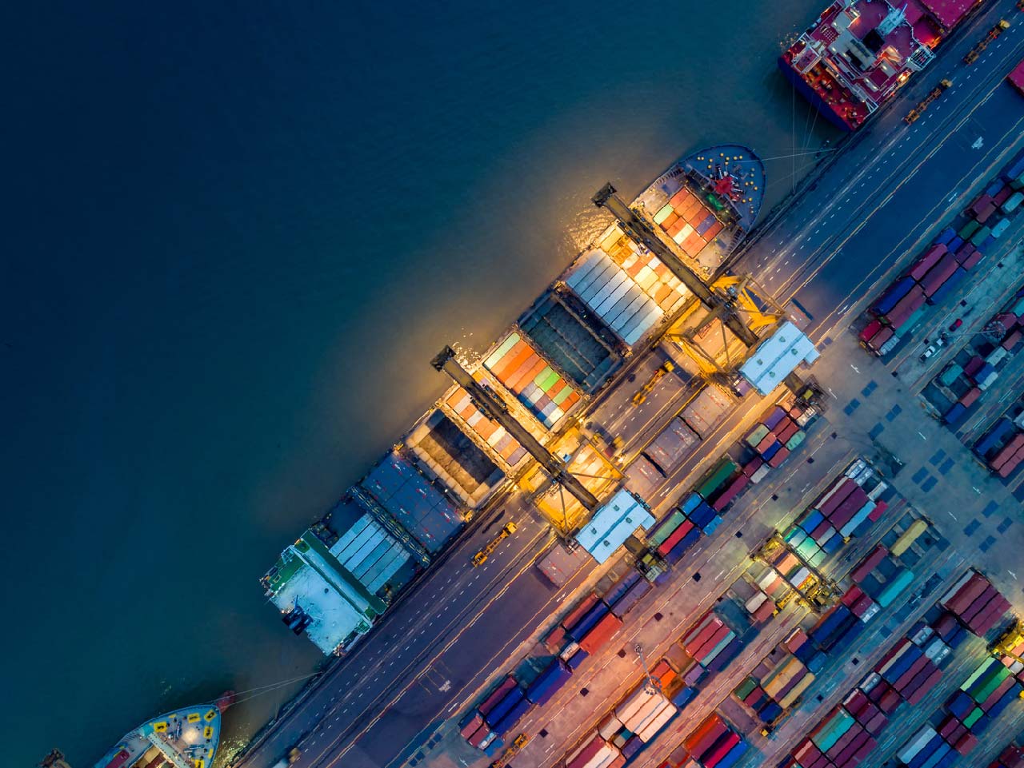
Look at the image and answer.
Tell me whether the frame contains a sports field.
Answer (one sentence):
No, no sports field is visible in the scene.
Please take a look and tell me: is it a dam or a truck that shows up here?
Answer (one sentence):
The one in the frame is a truck.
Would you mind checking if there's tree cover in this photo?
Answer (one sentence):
No, tree cover can't be seen anywhere here.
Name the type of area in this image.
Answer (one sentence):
It's a port.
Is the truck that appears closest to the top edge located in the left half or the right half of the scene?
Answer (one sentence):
You can find the truck that appears closest to the top edge on the right side of the picture.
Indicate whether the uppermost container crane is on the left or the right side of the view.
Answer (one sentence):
The uppermost container crane sits on the right side.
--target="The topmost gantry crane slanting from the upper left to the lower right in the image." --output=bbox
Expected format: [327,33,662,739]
[590,178,832,418]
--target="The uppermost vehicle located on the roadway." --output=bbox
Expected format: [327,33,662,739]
[966,18,1011,62]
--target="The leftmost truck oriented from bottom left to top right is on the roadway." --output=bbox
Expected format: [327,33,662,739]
[281,744,302,766]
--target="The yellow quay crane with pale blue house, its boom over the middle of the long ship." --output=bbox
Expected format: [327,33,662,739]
[428,343,671,582]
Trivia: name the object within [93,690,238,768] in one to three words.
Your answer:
ship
